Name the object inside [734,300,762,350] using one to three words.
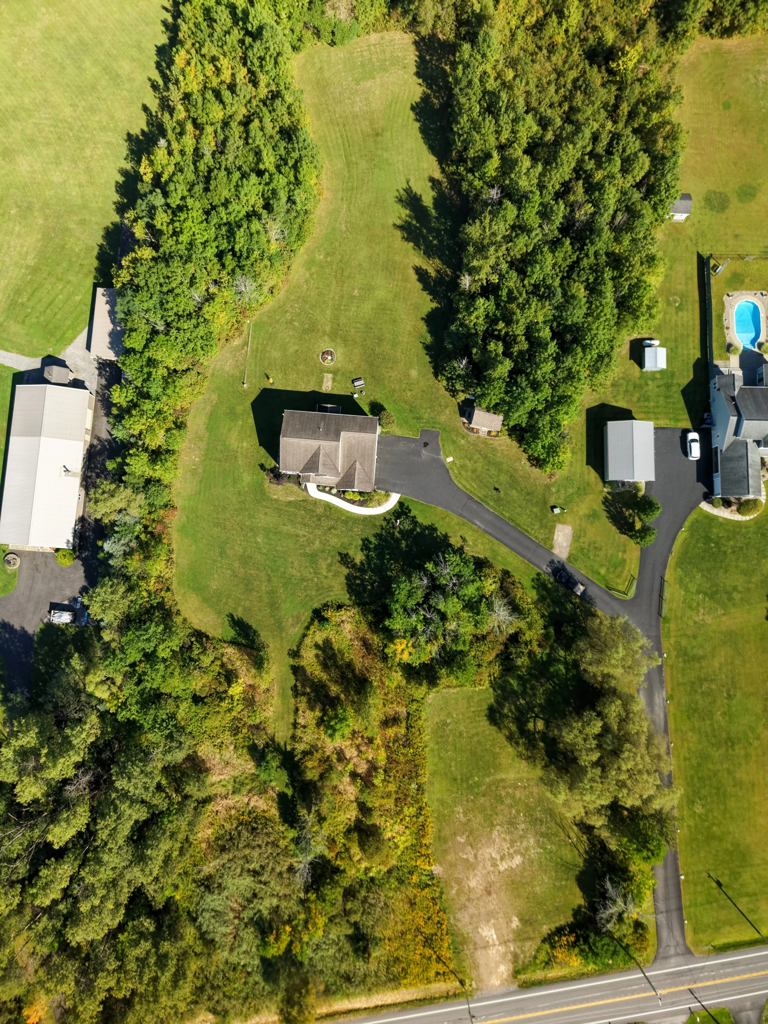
swimming pool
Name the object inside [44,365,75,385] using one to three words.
shed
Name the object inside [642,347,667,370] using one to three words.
shed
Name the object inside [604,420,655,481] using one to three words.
building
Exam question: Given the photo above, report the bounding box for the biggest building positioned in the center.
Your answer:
[278,404,380,493]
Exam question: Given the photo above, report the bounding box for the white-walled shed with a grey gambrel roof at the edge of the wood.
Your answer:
[671,193,697,221]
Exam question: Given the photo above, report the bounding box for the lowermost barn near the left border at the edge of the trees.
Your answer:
[0,384,95,548]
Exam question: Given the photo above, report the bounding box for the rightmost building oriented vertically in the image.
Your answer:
[711,364,768,498]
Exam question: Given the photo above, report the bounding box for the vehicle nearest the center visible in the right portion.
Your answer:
[553,566,587,597]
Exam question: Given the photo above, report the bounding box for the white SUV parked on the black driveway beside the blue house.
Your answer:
[687,433,703,461]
